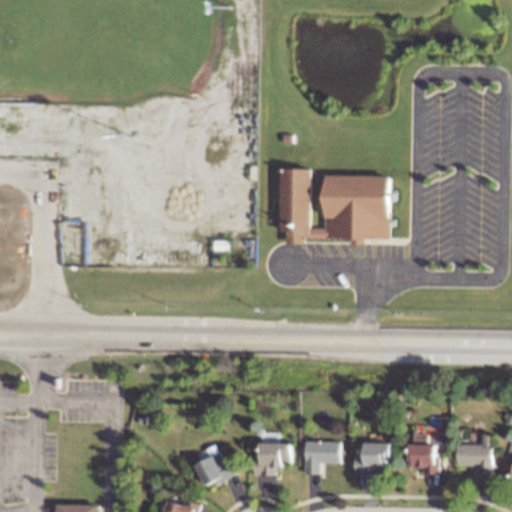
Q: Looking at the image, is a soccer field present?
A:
No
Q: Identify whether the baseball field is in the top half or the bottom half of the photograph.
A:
top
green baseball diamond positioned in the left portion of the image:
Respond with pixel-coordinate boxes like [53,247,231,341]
[0,0,222,106]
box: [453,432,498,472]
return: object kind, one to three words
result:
house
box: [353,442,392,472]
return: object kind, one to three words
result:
house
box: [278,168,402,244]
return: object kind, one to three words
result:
building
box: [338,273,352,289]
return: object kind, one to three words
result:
vehicle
